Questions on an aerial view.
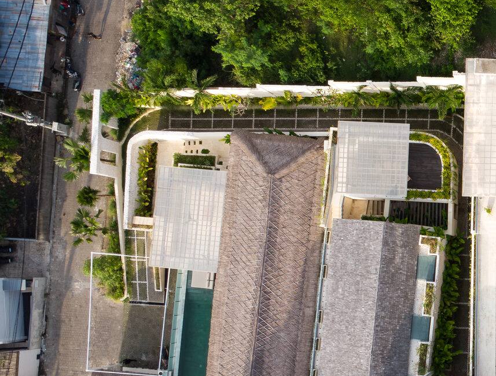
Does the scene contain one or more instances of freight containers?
No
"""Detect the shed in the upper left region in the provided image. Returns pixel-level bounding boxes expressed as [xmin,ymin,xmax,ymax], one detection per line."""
[0,0,60,98]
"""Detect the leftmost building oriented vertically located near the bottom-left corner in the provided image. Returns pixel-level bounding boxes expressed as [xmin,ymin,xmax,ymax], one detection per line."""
[0,279,33,344]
